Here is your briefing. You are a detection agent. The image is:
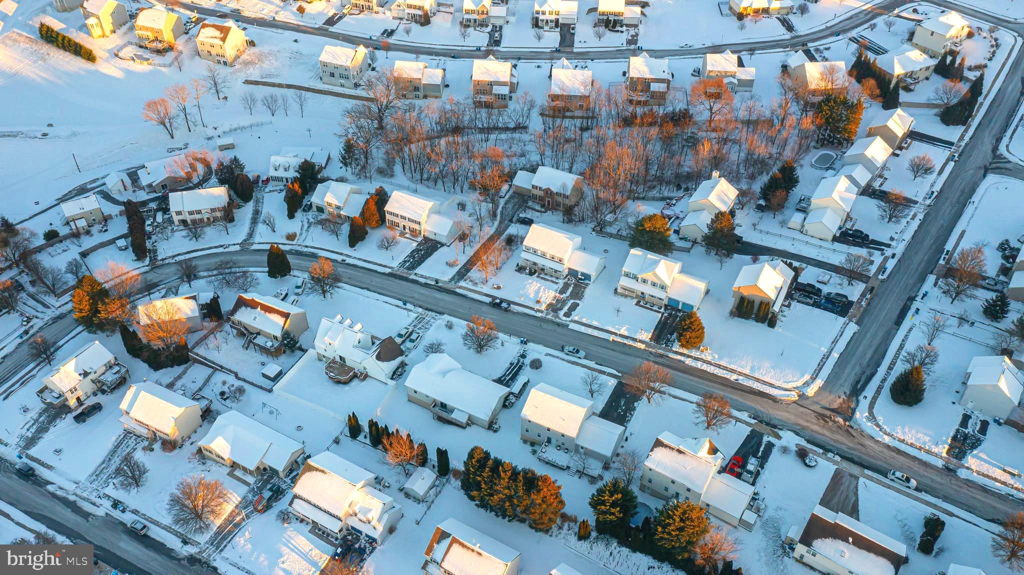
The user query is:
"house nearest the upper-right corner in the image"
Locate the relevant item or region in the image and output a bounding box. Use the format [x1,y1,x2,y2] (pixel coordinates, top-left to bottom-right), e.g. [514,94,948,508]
[911,14,978,59]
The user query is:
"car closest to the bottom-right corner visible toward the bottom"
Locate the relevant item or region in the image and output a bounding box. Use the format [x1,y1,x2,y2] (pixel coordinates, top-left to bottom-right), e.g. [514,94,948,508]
[889,470,918,488]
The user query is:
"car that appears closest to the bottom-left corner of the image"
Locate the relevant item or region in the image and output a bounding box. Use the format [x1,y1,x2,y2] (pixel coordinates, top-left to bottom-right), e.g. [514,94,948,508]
[11,457,37,475]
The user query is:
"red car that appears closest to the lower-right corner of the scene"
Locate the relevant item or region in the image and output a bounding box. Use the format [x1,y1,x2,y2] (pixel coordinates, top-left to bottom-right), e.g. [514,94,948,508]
[727,454,745,475]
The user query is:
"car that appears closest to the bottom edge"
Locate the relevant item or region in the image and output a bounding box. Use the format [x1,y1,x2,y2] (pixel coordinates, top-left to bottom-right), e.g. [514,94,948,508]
[122,519,150,537]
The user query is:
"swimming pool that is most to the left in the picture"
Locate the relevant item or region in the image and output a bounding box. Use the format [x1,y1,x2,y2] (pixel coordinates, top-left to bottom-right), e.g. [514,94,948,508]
[131,50,151,63]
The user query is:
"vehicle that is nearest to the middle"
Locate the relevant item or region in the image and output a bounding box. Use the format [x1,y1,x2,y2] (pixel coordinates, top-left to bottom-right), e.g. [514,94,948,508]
[489,297,514,312]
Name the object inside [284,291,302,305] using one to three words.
car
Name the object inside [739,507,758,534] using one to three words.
shed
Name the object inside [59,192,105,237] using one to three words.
house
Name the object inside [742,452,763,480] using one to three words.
truck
